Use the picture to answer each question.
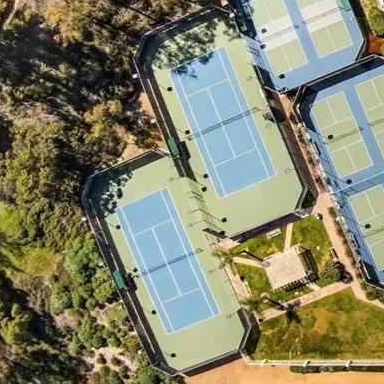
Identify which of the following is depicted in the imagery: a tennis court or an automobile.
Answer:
tennis court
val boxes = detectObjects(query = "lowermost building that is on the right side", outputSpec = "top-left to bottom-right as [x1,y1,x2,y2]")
[261,242,313,291]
